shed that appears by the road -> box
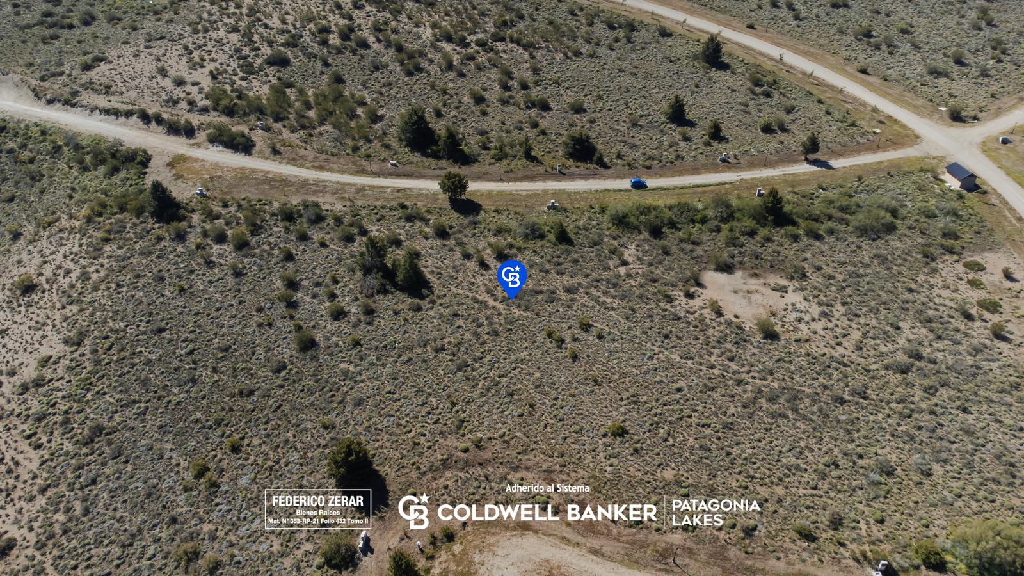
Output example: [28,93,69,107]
[942,163,981,188]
